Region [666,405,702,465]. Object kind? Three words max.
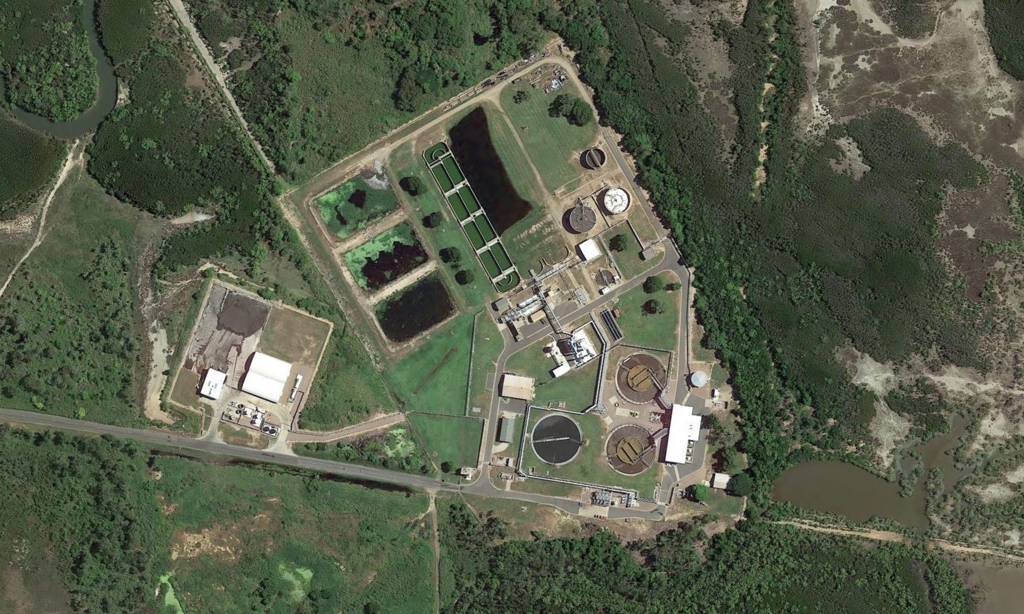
building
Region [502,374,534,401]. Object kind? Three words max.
building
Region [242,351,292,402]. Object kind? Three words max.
hangar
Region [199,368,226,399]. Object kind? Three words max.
shed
